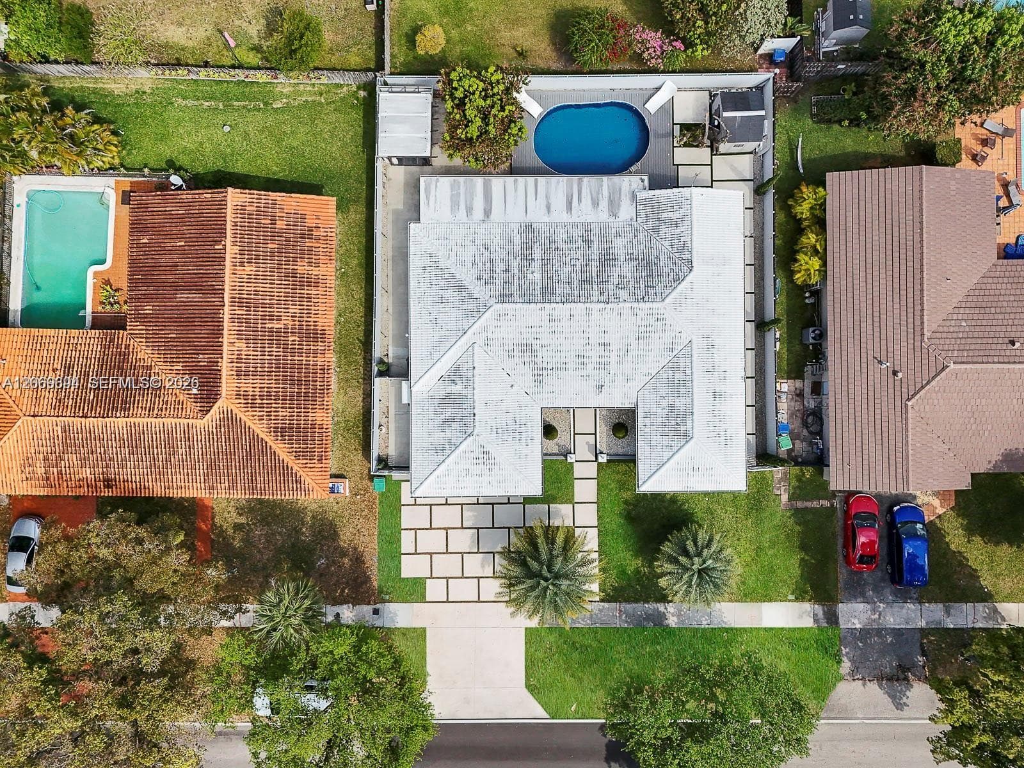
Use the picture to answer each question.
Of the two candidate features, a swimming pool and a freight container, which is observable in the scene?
swimming pool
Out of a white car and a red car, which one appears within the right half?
red car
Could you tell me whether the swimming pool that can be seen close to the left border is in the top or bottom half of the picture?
top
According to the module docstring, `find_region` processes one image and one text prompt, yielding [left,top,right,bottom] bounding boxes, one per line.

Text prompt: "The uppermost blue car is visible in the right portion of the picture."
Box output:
[887,502,934,583]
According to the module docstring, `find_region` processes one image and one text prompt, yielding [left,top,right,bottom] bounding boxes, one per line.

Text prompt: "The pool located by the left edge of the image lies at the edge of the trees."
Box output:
[14,185,114,329]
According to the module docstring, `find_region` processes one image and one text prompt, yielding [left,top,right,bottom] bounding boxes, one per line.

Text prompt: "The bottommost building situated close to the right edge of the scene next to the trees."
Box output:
[821,164,1024,495]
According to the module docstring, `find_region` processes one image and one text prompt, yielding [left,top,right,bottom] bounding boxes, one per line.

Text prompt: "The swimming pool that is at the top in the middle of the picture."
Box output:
[533,100,650,174]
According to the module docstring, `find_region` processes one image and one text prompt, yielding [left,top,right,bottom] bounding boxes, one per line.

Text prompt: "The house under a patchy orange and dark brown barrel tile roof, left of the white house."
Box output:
[0,186,333,499]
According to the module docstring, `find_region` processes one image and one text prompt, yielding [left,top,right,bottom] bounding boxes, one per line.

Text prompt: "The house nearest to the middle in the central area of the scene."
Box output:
[407,174,747,500]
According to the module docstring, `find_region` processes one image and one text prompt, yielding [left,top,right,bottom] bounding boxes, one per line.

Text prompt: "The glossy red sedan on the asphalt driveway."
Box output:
[843,494,886,572]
